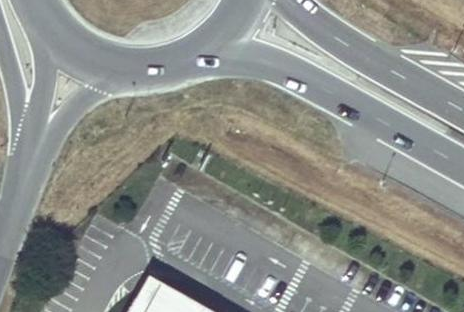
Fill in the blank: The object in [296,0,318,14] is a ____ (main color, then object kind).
white car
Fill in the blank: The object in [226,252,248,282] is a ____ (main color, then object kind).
white vehicle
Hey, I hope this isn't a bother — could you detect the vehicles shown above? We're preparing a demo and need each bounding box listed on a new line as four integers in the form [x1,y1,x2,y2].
[393,134,414,150]
[364,274,380,294]
[401,293,418,312]
[226,252,248,282]
[258,276,276,298]
[338,106,360,120]
[388,286,405,307]
[270,282,286,303]
[146,66,166,77]
[198,58,218,69]
[344,262,360,282]
[376,280,394,302]
[286,80,308,93]
[296,0,318,14]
